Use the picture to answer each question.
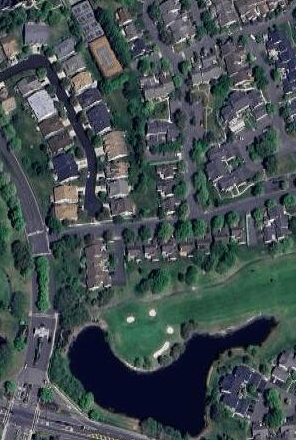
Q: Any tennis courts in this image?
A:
Yes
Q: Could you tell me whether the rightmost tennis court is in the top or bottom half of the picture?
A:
top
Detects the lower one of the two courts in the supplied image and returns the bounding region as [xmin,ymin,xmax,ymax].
[89,35,122,77]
